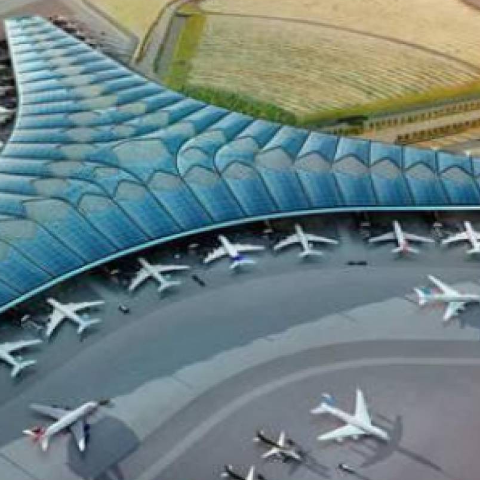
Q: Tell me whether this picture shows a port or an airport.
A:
airport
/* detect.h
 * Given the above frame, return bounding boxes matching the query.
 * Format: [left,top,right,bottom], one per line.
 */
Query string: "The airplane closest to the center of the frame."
[210,238,263,265]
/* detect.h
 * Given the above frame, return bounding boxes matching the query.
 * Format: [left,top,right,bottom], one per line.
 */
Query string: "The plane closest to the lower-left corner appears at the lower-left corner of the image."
[32,405,94,448]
